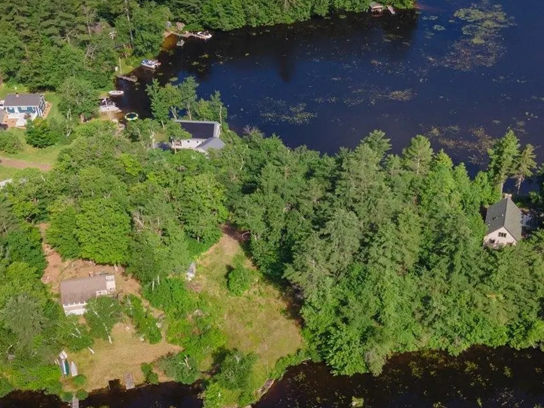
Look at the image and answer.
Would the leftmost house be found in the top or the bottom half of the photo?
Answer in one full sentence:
The leftmost house is in the top half of the image.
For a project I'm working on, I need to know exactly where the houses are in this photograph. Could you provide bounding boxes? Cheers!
[173,119,225,158]
[62,270,119,316]
[4,92,44,119]
[479,193,536,252]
